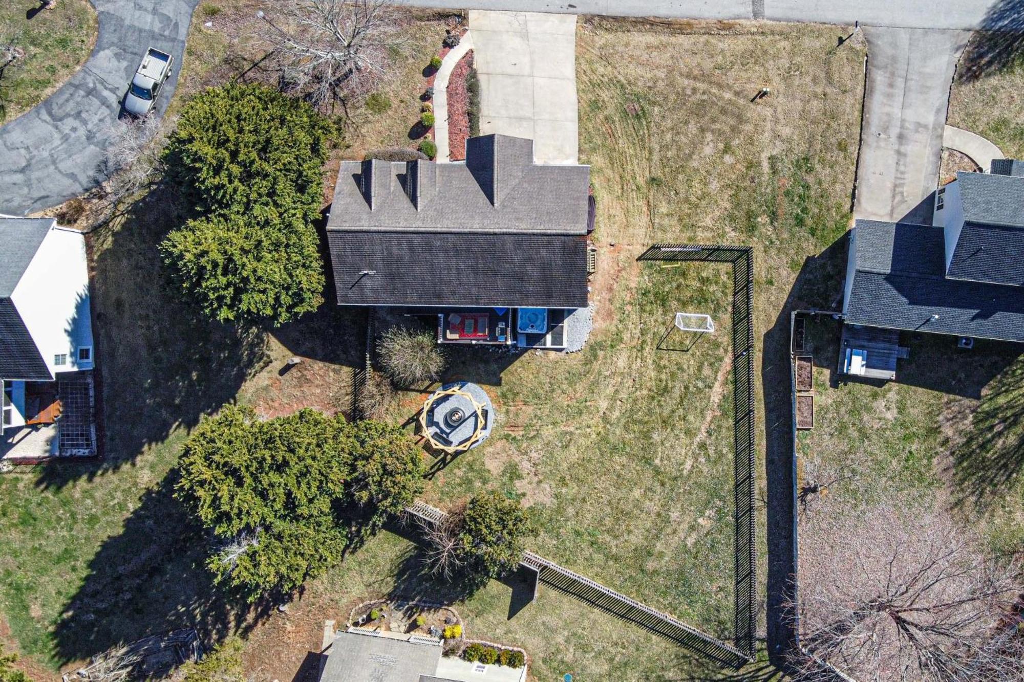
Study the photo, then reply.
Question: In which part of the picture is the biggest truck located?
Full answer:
The biggest truck is in the top left part of the image.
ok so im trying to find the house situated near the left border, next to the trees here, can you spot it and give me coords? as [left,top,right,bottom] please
[0,215,94,435]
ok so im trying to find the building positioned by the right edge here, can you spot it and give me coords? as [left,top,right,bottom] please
[842,159,1024,342]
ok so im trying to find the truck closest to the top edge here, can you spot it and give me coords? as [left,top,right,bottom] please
[125,46,176,122]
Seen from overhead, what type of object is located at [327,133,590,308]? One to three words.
house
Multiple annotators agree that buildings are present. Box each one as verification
[842,159,1024,342]
[324,616,527,682]
[0,215,94,435]
[327,133,590,308]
